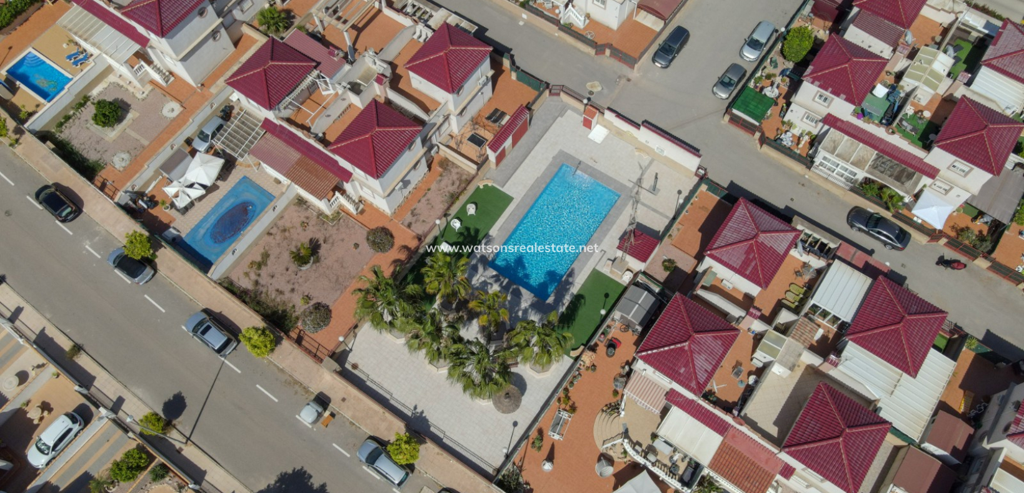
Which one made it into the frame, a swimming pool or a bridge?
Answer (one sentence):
Of the two, only a swimming pool appears.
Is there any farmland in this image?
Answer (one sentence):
No, the picture contains no farmland.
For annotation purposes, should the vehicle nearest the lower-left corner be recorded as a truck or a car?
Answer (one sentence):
Looking closely, the vehicle nearest the lower-left corner is a car.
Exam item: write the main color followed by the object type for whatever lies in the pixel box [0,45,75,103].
blue swimming pool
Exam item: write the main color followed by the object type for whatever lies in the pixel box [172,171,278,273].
blue swimming pool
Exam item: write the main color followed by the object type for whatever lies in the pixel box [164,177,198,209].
white umbrella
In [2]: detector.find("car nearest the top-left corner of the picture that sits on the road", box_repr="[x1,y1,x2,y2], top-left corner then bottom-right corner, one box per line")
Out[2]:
[35,191,82,230]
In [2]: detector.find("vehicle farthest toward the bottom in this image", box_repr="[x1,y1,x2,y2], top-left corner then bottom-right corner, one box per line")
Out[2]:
[351,437,419,493]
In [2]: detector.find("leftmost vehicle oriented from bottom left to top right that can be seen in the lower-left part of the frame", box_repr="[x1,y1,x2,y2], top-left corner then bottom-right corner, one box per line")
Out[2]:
[24,403,92,465]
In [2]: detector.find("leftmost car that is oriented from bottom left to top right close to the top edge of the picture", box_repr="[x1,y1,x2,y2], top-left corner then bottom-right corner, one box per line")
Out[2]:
[647,21,691,69]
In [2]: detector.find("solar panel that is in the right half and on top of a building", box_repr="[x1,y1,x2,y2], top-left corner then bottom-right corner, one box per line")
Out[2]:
[960,15,994,40]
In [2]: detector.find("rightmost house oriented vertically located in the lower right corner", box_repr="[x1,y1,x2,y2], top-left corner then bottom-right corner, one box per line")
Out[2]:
[968,365,1024,481]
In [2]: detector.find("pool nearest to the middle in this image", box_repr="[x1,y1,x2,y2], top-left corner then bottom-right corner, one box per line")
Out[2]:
[482,158,626,306]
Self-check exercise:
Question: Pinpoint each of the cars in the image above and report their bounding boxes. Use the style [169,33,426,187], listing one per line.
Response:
[737,17,783,65]
[647,21,691,69]
[105,250,158,294]
[35,191,82,230]
[24,403,92,465]
[351,437,419,493]
[182,313,242,366]
[185,114,230,155]
[706,59,751,103]
[839,210,913,257]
